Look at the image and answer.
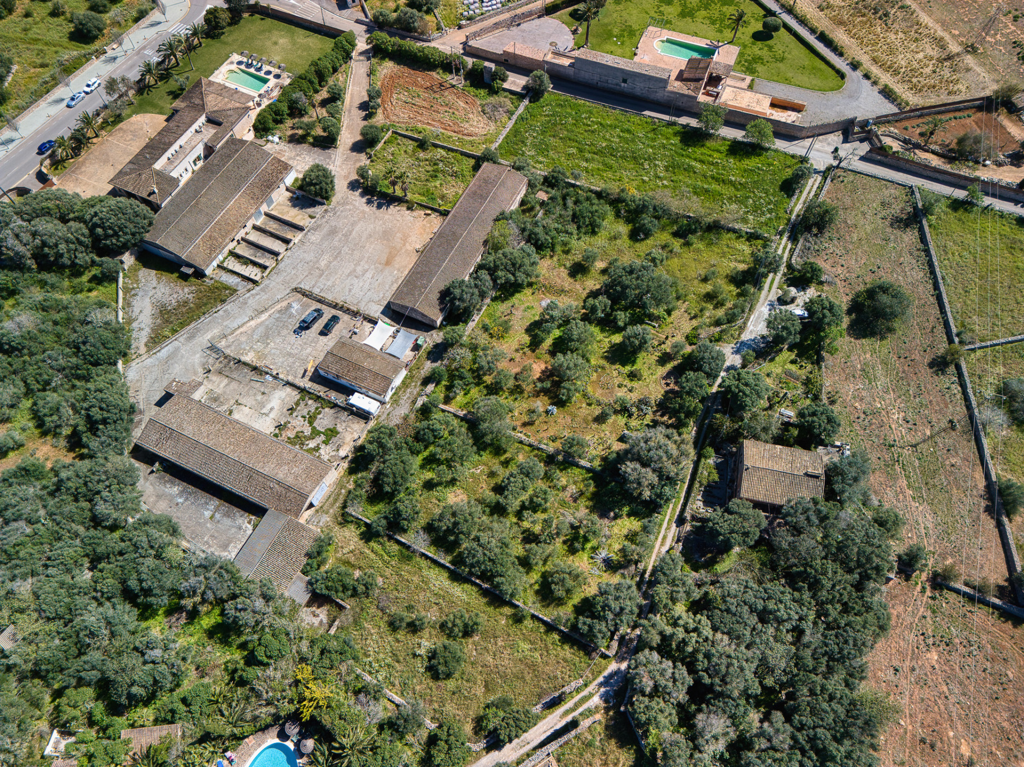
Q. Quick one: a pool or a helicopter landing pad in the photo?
pool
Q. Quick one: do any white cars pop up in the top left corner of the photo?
Yes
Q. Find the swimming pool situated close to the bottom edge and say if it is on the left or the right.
left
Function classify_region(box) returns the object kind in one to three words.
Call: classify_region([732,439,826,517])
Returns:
house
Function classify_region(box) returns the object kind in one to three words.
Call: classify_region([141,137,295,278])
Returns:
barn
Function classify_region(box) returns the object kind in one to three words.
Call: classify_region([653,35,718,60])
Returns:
swimming pool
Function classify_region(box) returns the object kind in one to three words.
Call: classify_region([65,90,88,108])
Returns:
car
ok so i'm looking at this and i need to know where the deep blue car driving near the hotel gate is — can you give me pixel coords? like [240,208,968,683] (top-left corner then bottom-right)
[35,135,56,154]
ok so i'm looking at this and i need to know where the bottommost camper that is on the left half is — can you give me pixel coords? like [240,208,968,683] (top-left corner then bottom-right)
[348,392,384,422]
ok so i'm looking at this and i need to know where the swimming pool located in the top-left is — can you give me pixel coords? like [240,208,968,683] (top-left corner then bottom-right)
[221,65,273,93]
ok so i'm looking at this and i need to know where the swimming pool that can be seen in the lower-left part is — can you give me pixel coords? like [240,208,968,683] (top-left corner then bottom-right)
[243,737,302,767]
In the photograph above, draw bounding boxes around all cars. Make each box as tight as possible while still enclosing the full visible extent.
[317,312,342,338]
[81,75,104,93]
[65,90,88,108]
[35,135,56,154]
[295,306,327,332]
[785,306,811,321]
